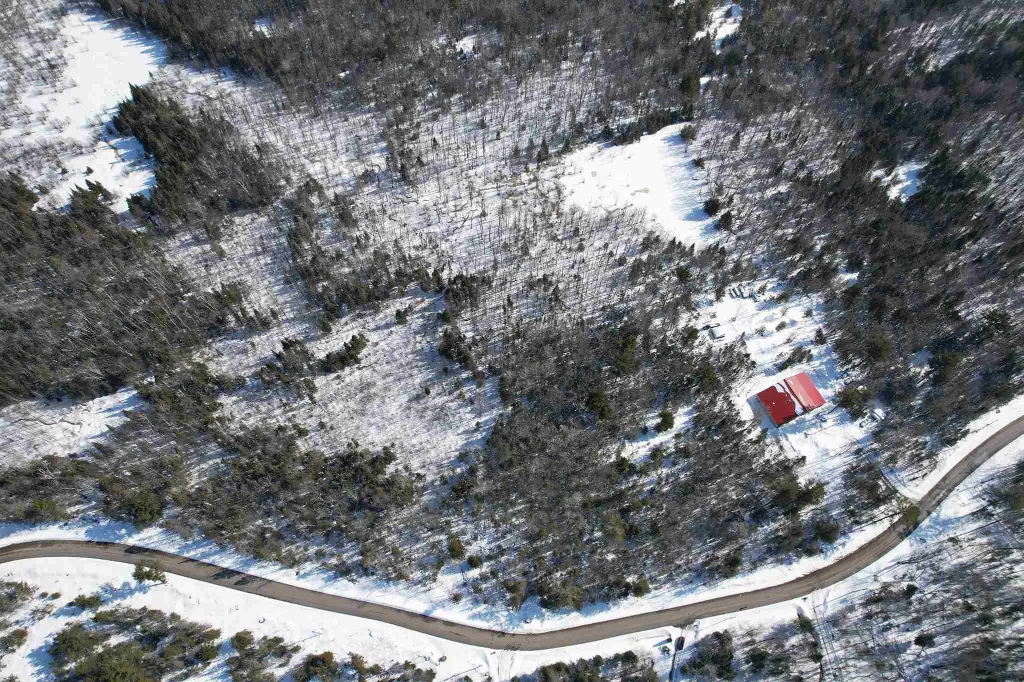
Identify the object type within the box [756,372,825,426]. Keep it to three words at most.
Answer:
house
